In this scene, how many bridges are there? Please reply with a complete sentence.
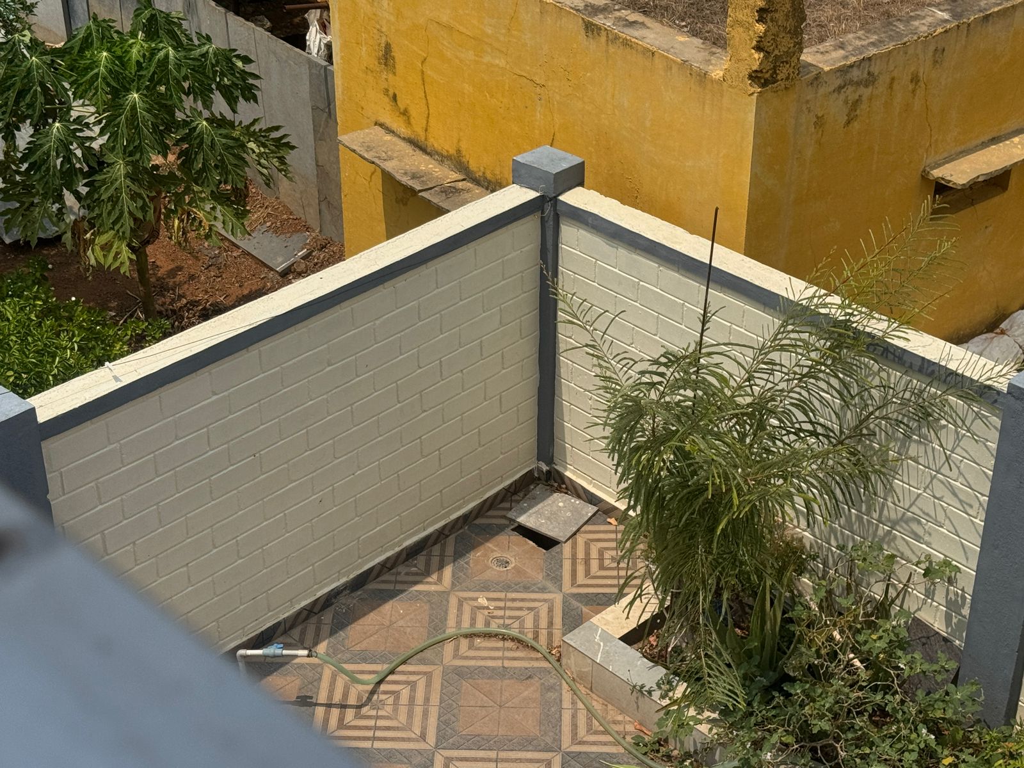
The photo contains no bridges.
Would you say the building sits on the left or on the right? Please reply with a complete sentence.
You can find the building on the right side of the picture.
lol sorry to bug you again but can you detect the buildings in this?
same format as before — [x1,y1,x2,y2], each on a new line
[334,0,1024,339]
